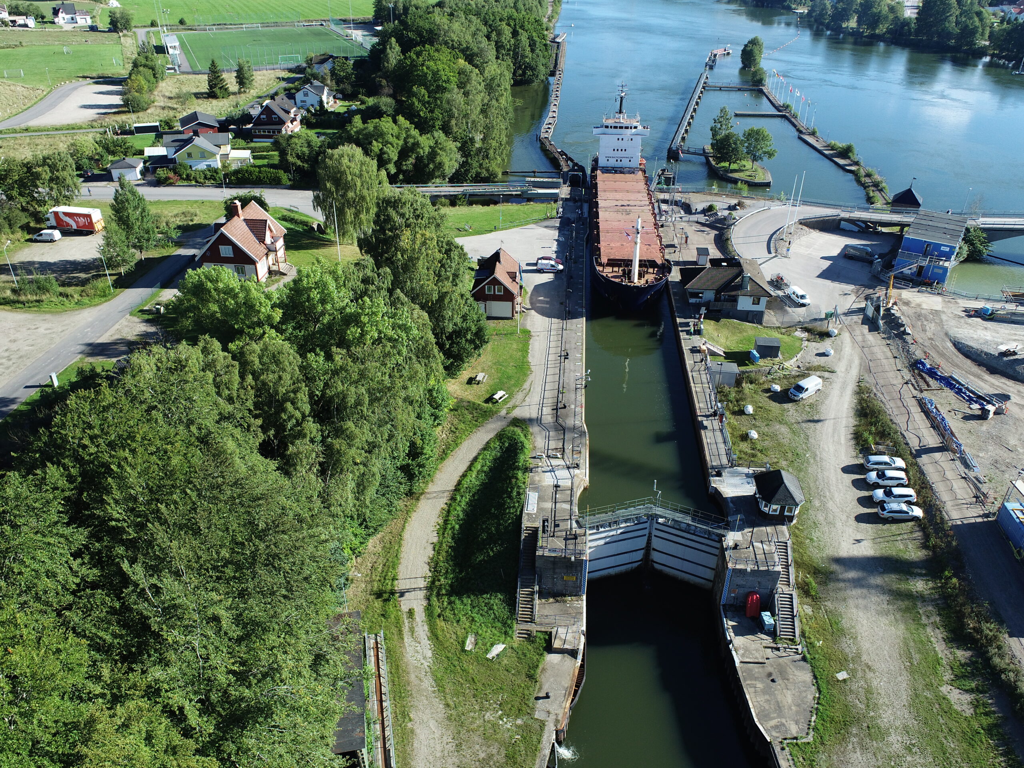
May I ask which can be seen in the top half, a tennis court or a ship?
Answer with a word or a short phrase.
ship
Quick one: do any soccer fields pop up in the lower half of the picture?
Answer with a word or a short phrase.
No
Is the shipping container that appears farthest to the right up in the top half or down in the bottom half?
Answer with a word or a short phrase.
bottom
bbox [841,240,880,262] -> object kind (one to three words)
vehicle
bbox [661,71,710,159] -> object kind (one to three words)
pier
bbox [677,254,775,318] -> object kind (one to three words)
building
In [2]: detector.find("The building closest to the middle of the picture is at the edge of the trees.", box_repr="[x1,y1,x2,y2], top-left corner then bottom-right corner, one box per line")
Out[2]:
[475,242,532,320]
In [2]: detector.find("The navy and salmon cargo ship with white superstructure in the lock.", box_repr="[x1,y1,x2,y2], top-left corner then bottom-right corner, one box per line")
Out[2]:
[585,82,675,317]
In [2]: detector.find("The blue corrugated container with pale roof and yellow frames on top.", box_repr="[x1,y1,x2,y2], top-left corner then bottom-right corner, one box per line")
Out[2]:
[996,499,1024,558]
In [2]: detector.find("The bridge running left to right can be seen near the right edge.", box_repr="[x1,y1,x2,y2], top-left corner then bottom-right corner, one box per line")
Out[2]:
[731,201,1024,256]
